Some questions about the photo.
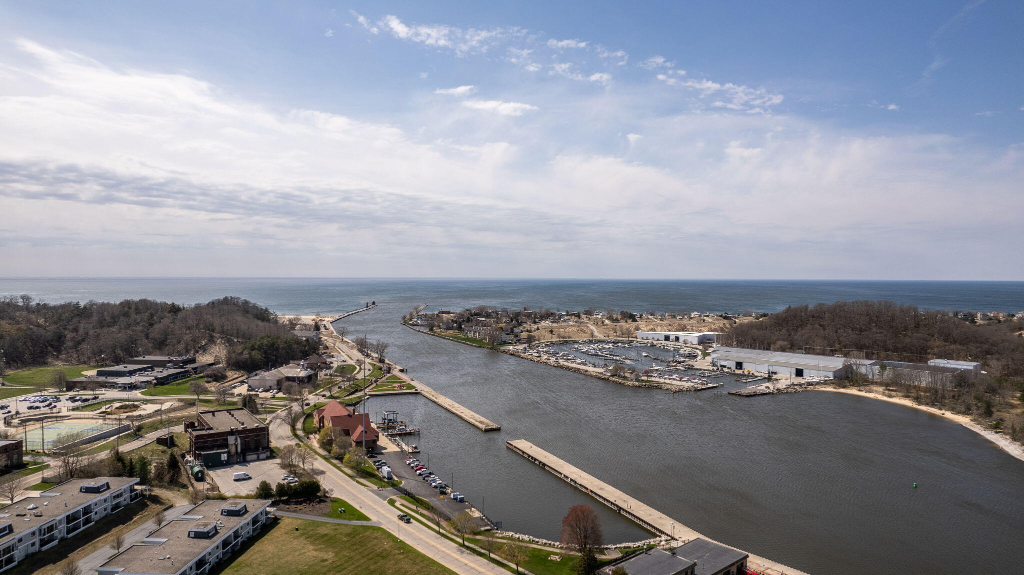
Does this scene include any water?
Yes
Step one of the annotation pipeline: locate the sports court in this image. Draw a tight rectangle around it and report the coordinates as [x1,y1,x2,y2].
[16,422,122,449]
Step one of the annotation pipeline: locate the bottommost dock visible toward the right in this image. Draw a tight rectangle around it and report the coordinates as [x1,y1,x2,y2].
[504,440,808,575]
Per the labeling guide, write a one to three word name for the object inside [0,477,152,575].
building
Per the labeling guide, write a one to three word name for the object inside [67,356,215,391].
building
